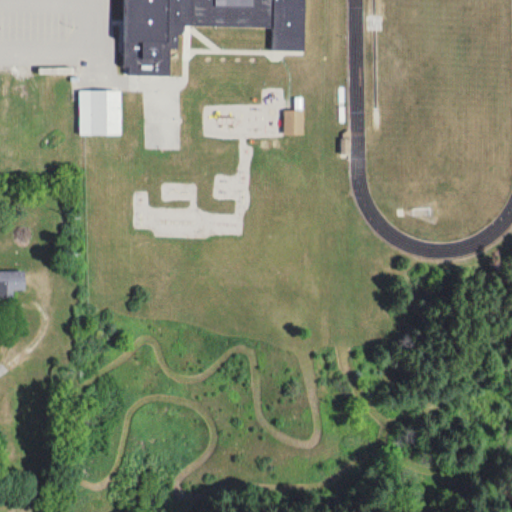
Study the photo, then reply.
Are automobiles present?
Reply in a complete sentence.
No, no automobile can be seen from above.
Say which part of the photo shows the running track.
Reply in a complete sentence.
The running track sits in the top right section of the image.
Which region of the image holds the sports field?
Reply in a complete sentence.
The sports field is located in the top right region of the scene.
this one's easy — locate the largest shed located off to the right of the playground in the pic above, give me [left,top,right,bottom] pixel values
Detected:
[284,111,304,136]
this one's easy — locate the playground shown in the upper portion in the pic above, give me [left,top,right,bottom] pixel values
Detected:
[134,89,284,239]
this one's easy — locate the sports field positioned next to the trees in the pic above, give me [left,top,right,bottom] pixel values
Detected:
[366,0,512,243]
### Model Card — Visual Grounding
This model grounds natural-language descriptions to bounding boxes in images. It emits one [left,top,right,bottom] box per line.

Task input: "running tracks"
[348,0,512,260]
